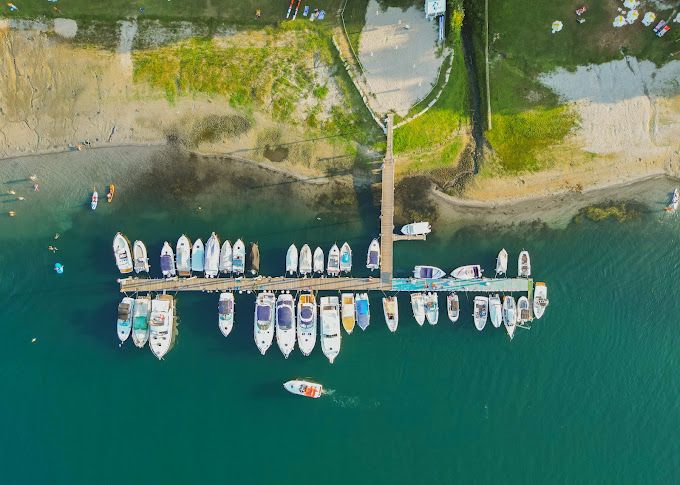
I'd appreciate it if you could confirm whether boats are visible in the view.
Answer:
Yes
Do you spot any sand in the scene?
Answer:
Yes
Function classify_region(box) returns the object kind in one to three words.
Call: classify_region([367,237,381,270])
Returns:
boat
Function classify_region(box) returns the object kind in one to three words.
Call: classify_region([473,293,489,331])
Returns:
boat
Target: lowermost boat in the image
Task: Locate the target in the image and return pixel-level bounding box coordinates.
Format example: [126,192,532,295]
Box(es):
[282,379,323,397]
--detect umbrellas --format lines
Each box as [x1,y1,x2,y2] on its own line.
[624,9,639,22]
[550,21,562,33]
[622,0,637,10]
[639,12,654,25]
[610,15,625,29]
